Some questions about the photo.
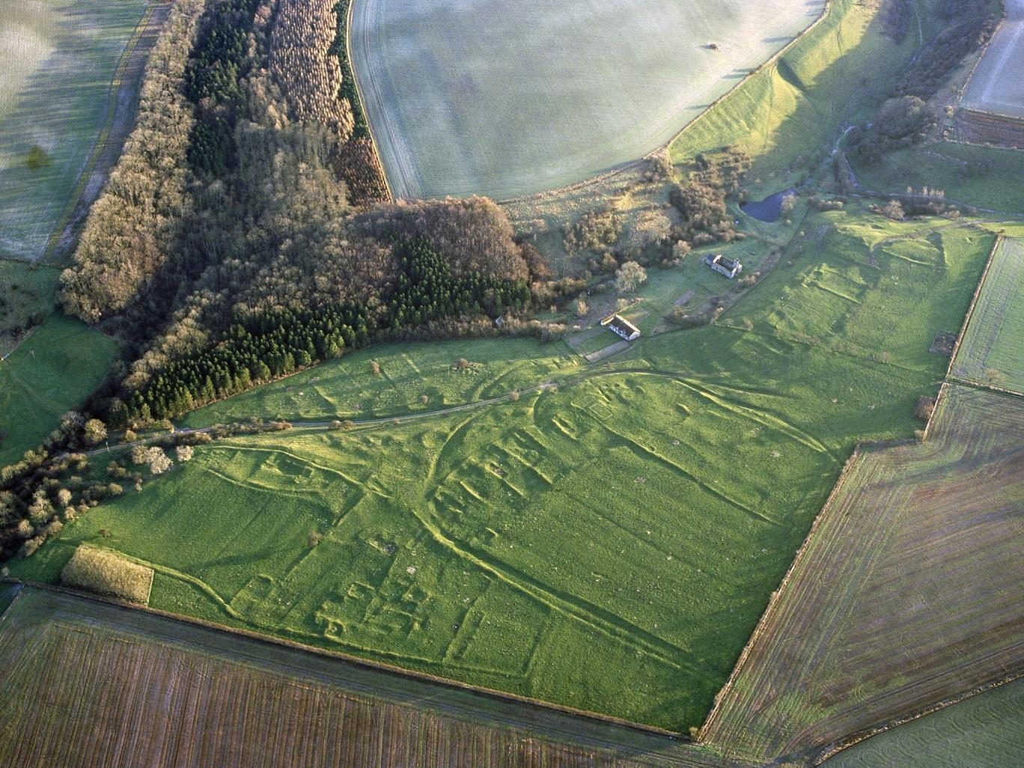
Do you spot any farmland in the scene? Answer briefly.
Yes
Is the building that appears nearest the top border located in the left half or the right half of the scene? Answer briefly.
right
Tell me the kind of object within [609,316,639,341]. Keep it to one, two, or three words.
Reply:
house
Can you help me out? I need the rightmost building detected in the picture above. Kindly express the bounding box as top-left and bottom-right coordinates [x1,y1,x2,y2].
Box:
[706,254,744,280]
